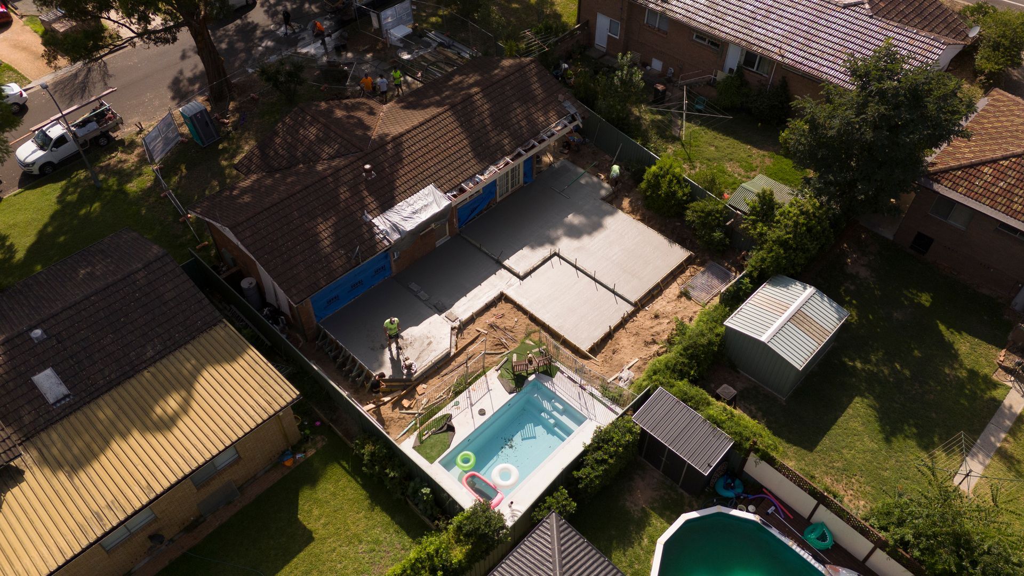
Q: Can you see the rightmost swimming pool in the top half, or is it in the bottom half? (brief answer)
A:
bottom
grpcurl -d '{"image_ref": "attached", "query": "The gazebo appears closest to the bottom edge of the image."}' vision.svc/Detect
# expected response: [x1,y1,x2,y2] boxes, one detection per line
[489,511,627,576]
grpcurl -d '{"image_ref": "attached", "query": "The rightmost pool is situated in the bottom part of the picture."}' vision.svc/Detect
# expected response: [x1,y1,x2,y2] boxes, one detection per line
[658,510,830,576]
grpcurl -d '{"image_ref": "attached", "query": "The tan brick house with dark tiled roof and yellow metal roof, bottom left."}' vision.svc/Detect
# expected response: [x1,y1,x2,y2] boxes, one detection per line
[0,223,305,576]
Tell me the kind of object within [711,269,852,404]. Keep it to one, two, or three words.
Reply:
shed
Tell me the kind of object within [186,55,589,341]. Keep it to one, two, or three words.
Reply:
house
